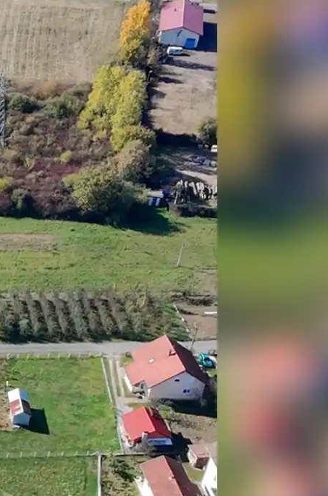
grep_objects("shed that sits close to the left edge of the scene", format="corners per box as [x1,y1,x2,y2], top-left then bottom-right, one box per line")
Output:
[5,391,32,426]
